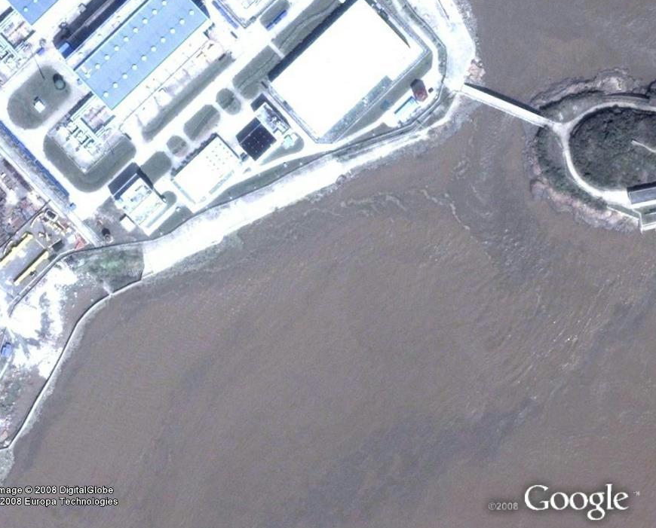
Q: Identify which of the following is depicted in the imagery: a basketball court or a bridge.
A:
bridge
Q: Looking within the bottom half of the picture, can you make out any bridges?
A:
No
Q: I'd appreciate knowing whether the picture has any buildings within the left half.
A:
Yes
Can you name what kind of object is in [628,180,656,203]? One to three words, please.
building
